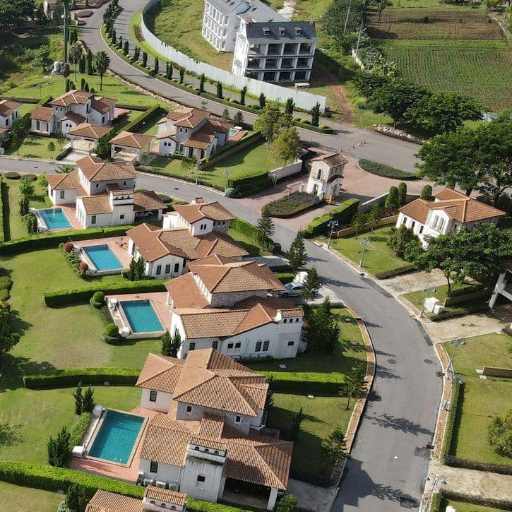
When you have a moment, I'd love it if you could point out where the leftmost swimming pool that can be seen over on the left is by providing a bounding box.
[26,203,76,231]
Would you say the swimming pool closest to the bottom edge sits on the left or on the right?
left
